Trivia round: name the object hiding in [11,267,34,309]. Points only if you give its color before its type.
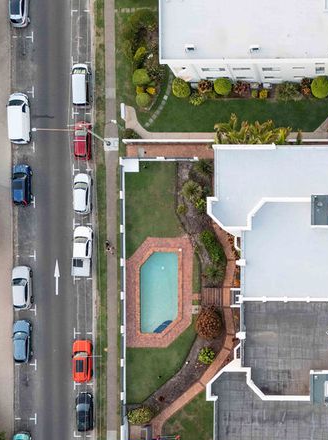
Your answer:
white car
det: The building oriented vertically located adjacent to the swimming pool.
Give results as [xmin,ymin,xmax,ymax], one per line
[205,145,328,440]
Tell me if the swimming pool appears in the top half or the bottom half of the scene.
bottom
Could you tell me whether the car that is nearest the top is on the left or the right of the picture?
left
